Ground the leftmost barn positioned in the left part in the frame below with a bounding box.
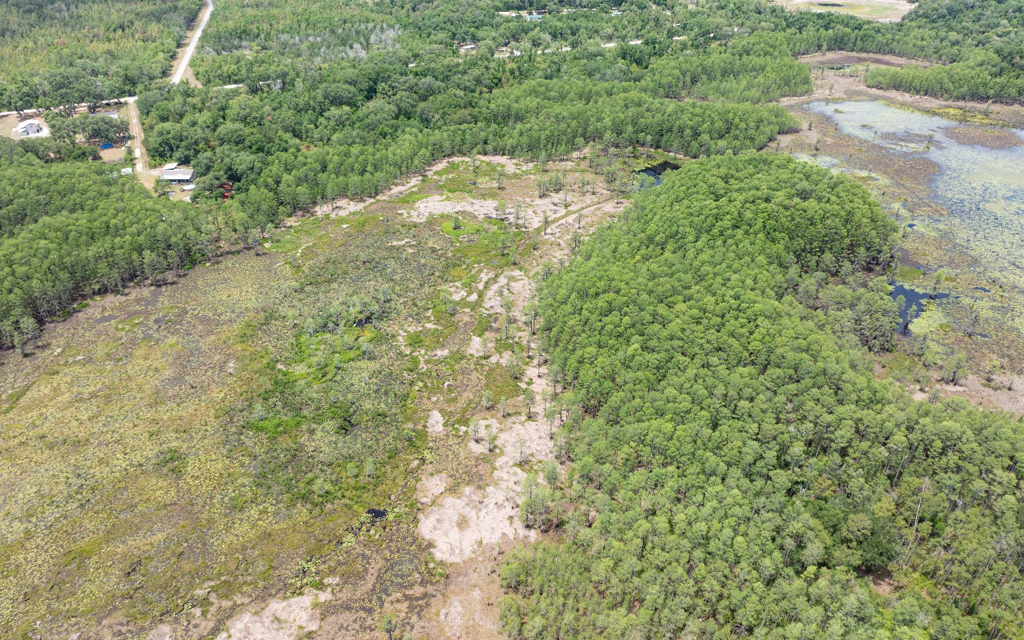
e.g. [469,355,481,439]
[11,121,44,135]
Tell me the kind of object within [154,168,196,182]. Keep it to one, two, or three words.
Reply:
house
